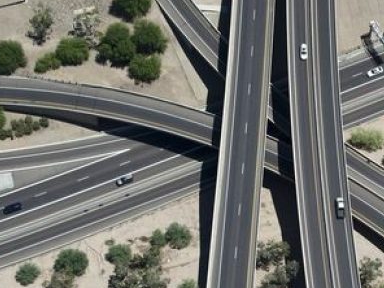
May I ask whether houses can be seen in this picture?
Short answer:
No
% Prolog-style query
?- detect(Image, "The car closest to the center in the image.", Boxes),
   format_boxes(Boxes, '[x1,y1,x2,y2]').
[115,174,134,186]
